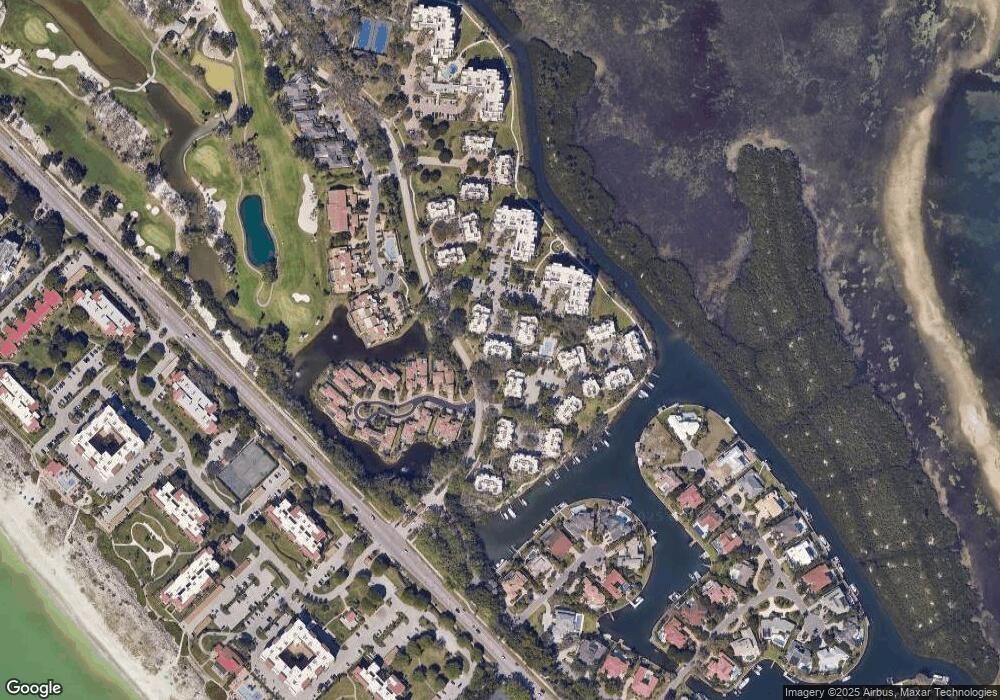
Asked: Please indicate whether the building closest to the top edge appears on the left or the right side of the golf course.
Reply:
right of it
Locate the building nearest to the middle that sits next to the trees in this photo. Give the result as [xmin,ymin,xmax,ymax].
[480,336,513,356]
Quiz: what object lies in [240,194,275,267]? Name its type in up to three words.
pond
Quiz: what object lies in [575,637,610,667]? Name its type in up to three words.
house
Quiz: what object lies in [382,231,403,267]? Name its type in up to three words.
swimming pool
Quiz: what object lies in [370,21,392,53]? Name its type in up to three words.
tennis court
